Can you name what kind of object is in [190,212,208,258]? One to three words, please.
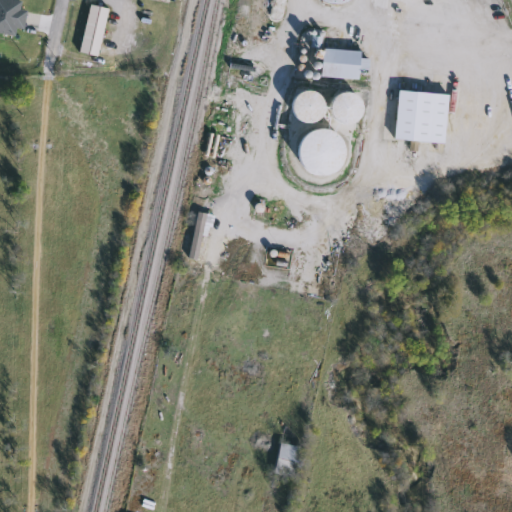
shed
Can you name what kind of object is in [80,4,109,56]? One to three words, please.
shed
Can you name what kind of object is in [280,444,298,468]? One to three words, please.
barn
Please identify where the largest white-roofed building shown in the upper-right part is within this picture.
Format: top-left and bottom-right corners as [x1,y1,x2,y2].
[396,90,451,143]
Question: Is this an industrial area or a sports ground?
industrial area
